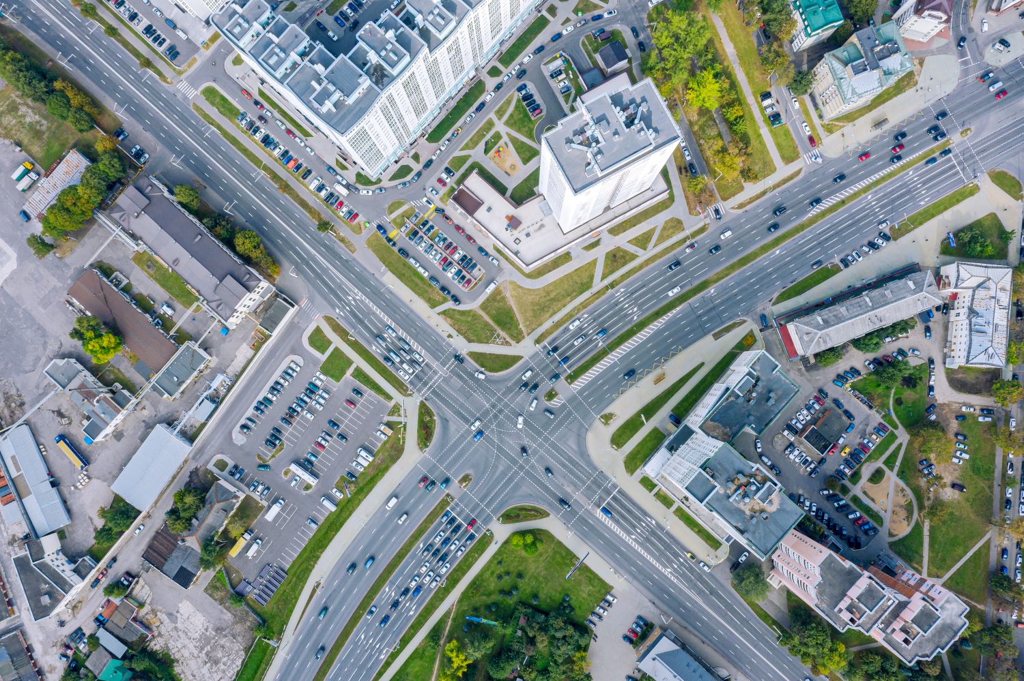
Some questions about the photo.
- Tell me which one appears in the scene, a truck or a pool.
truck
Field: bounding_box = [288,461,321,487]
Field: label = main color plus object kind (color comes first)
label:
white bus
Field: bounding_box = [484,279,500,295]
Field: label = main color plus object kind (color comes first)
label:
white vehicle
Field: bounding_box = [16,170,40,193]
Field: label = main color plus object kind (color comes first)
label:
white truck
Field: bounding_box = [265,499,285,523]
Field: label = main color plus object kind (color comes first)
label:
white vehicle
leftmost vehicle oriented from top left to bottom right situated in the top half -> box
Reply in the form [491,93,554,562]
[17,209,30,223]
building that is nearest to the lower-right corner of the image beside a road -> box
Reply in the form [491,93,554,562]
[764,529,971,667]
